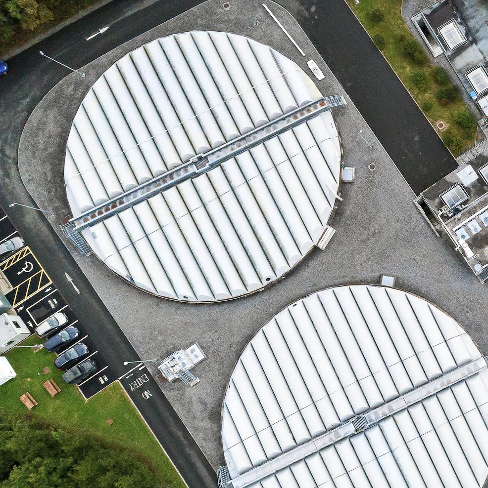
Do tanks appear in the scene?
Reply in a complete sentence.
Yes, there's a tank here.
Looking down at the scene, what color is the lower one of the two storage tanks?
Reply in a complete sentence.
The lower one of the two storage tanks is white.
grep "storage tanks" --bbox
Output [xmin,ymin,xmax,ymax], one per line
[216,275,488,488]
[59,24,357,306]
